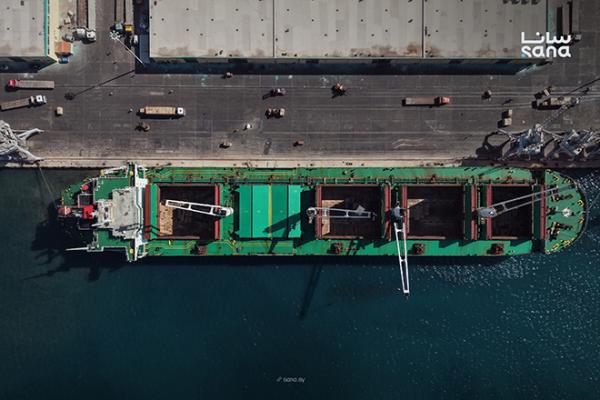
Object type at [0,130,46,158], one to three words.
container crane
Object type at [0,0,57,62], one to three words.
building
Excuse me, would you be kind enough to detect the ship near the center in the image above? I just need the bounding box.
[55,163,591,295]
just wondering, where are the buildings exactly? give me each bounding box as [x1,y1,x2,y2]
[149,0,552,64]
[0,0,57,62]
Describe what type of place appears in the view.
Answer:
port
